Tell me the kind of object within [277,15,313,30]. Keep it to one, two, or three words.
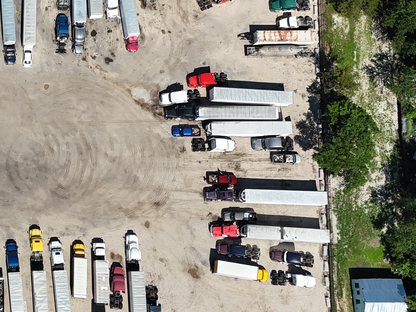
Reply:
vehicle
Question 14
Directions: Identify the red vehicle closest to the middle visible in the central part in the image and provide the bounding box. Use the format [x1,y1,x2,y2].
[205,170,236,184]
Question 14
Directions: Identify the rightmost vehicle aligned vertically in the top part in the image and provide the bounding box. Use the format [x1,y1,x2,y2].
[118,0,139,53]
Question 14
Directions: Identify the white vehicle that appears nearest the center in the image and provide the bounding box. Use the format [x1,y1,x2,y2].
[190,137,235,152]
